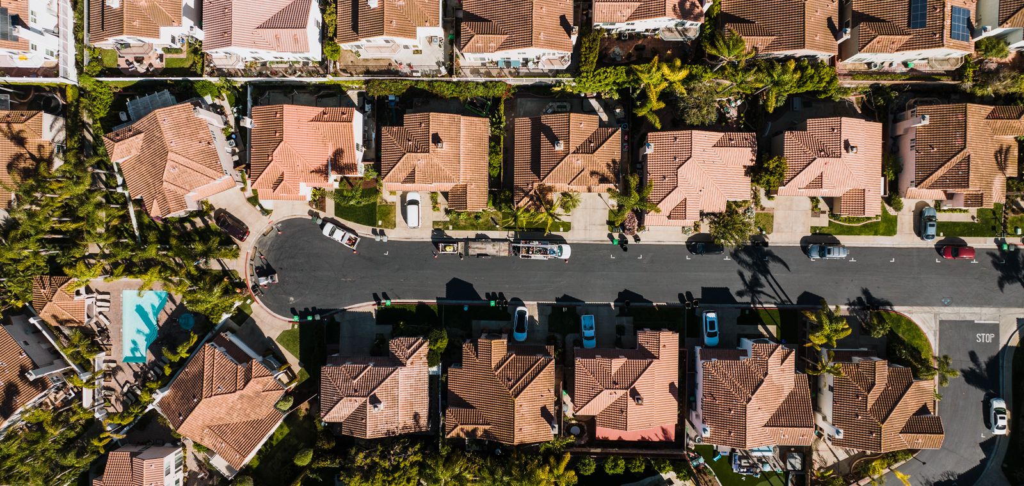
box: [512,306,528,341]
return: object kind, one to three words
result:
car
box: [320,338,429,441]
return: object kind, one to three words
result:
house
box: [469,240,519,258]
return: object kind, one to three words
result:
trailer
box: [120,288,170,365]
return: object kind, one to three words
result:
swimming pool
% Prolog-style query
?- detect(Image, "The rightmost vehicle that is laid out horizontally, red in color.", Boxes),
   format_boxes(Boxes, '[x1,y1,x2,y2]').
[941,245,978,261]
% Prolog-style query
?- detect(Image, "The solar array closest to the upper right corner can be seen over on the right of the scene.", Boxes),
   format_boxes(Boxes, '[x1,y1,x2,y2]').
[953,6,971,41]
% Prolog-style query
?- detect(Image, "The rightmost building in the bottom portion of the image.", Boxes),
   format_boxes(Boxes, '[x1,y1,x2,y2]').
[816,350,950,451]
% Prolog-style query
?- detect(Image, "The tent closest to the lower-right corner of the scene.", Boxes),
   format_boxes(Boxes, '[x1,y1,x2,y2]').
[781,448,803,471]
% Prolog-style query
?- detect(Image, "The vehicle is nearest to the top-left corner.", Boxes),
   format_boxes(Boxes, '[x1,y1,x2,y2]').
[214,212,250,243]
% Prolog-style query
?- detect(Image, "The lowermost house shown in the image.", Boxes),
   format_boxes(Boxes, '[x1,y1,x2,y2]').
[93,443,183,486]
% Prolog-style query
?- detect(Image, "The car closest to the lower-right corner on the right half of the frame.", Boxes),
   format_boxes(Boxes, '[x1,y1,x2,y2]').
[989,397,1010,435]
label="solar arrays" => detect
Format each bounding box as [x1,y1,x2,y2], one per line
[912,0,927,28]
[953,6,971,41]
[0,8,7,40]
